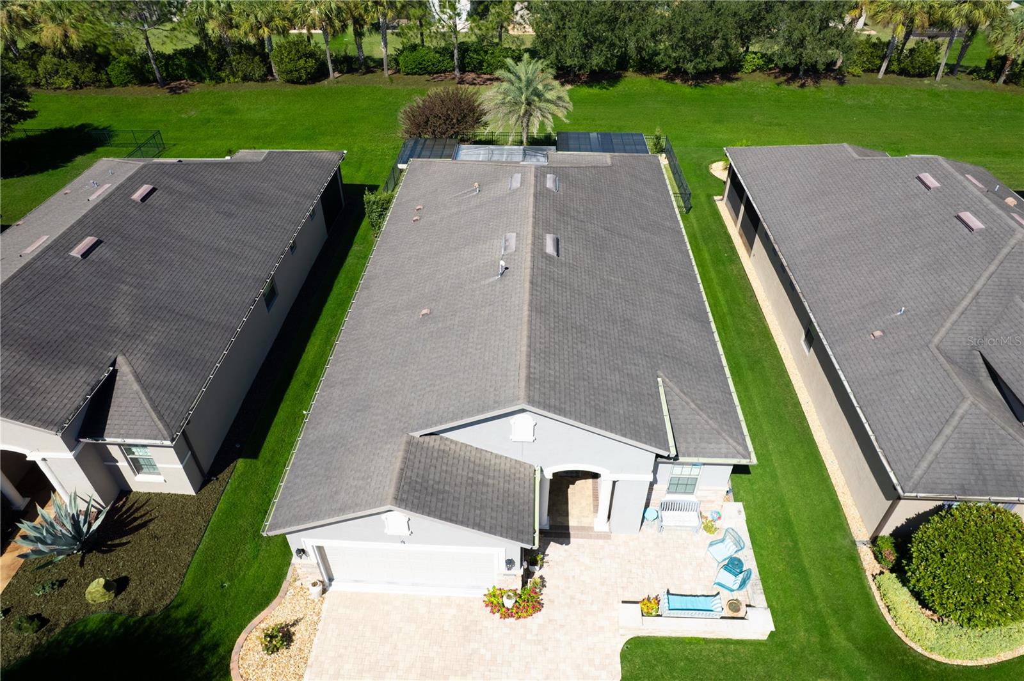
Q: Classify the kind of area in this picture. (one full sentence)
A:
The picture captures a residential area.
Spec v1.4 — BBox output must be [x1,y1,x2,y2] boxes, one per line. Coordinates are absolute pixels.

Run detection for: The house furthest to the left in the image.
[0,149,338,516]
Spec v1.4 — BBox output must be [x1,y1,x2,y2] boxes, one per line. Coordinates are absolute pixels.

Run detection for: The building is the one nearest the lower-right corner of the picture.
[727,145,1024,539]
